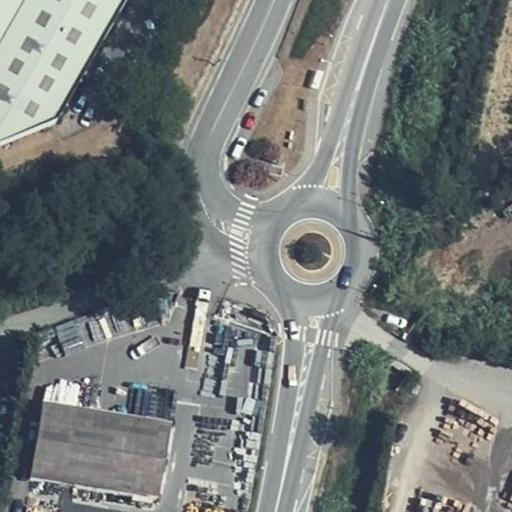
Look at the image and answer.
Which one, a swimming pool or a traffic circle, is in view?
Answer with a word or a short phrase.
traffic circle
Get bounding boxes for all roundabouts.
[278,218,346,286]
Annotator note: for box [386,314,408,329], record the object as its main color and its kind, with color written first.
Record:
white car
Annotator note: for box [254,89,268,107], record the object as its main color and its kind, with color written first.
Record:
white vehicle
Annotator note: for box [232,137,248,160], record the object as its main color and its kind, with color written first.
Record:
white vehicle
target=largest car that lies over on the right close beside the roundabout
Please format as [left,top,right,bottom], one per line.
[338,264,356,290]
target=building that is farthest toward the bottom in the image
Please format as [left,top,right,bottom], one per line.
[30,401,173,503]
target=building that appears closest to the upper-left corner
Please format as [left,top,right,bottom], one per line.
[0,0,130,150]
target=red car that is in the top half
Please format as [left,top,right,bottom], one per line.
[244,114,256,130]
